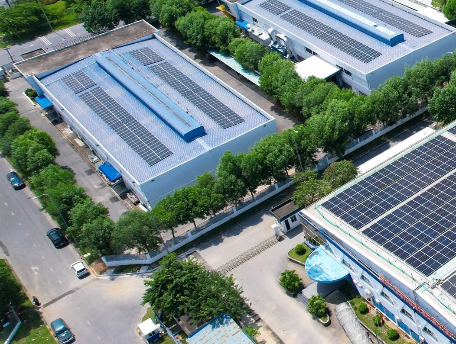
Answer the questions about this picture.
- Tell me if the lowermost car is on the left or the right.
left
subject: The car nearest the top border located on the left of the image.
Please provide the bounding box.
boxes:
[2,169,25,188]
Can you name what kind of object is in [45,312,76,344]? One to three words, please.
car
